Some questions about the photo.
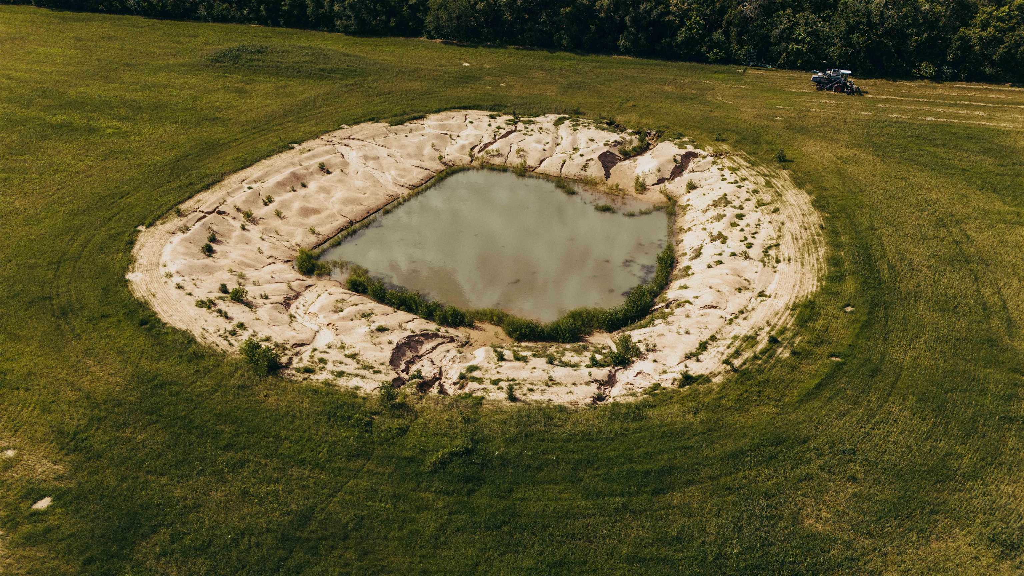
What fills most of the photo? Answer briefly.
grass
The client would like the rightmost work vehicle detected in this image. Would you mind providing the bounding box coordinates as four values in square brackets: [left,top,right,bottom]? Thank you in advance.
[811,65,867,95]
